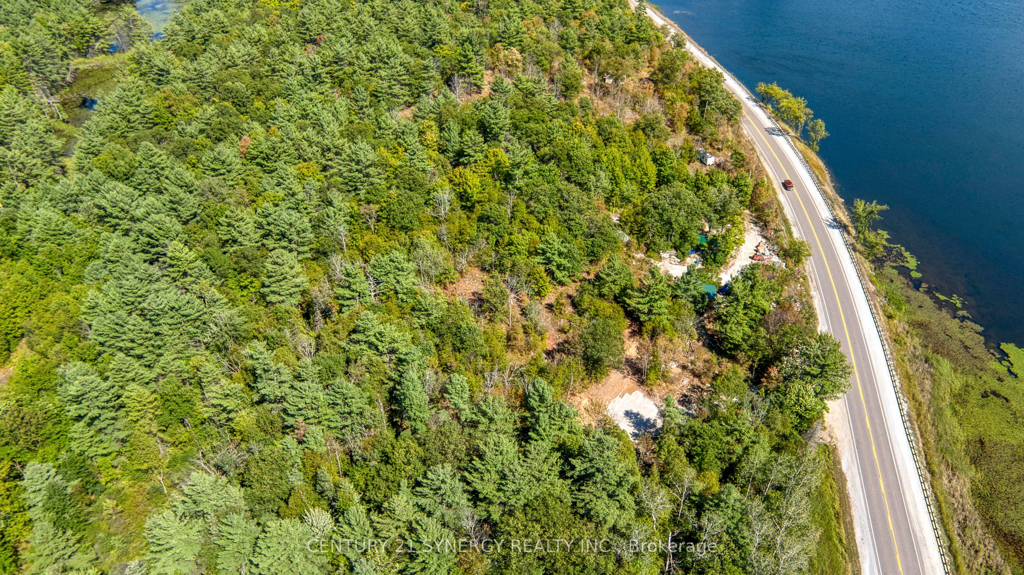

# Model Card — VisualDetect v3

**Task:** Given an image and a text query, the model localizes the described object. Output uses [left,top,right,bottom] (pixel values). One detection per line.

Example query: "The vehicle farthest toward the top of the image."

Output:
[700,150,717,164]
